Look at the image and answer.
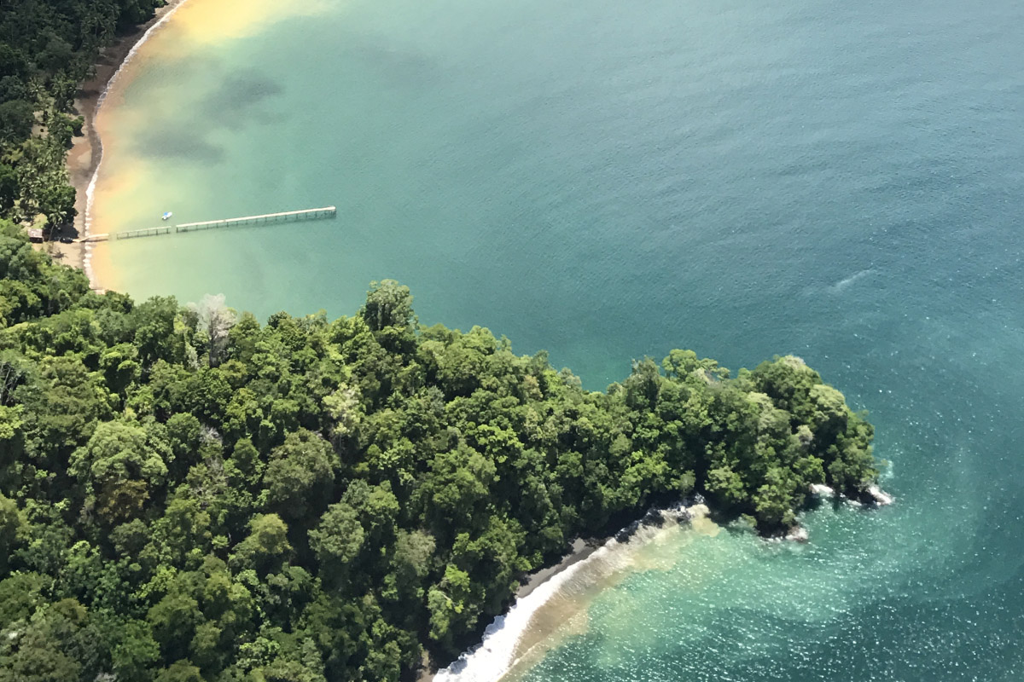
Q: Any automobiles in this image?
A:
No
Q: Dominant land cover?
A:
water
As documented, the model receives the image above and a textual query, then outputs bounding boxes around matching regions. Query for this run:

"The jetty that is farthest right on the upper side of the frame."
[176,205,338,233]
